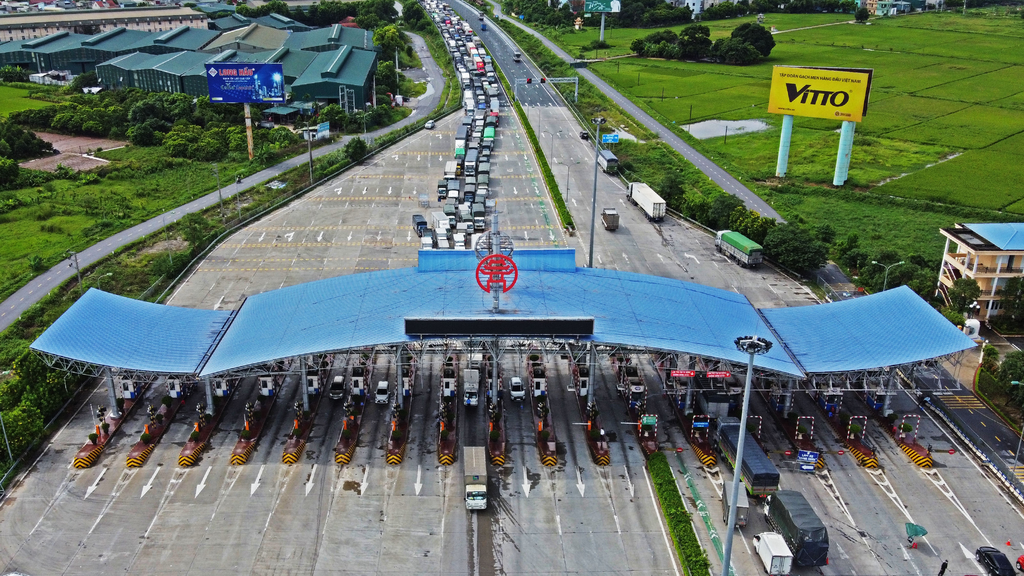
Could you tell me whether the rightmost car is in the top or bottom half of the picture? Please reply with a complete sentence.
It is in the bottom half that the rightmost car appears.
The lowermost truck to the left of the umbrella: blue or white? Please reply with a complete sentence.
From above, the lowermost truck to the left of the umbrella appears white.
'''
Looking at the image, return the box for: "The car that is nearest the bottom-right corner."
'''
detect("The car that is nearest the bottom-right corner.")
[975,537,1024,574]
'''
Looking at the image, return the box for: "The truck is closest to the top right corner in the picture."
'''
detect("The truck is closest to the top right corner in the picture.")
[712,231,761,265]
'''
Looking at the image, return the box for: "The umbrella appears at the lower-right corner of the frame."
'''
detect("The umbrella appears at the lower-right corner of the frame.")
[901,516,929,538]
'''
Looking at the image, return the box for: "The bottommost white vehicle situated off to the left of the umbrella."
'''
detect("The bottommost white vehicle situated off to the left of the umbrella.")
[751,523,795,571]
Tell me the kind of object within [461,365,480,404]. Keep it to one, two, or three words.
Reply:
vehicle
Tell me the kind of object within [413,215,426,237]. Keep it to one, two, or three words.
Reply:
vehicle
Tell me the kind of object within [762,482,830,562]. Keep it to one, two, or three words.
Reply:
truck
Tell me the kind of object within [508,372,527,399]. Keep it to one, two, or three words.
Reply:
car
